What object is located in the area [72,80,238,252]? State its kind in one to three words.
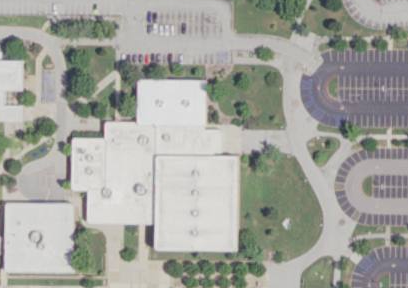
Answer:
building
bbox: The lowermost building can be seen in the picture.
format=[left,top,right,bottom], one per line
[4,202,75,274]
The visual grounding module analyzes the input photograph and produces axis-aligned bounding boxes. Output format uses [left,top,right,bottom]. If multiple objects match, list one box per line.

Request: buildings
[0,51,24,123]
[4,202,75,274]
[72,80,238,252]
